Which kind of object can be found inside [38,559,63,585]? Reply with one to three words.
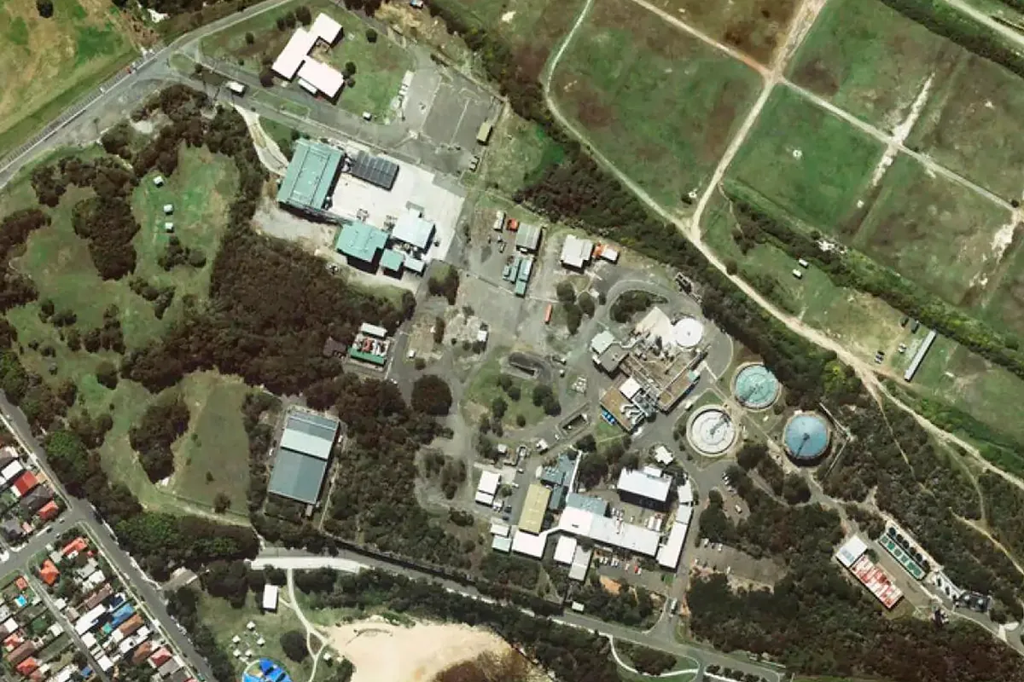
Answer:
house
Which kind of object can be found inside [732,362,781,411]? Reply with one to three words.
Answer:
storage tank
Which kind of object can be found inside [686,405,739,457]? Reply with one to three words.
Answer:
storage tank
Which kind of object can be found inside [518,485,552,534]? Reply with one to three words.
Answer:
building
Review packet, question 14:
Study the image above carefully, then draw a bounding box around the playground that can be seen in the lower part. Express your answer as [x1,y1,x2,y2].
[242,658,289,682]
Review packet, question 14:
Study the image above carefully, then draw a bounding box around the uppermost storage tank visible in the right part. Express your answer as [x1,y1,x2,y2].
[672,318,704,347]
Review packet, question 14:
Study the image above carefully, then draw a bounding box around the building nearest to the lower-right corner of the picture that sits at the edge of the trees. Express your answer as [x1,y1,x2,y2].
[851,556,903,608]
